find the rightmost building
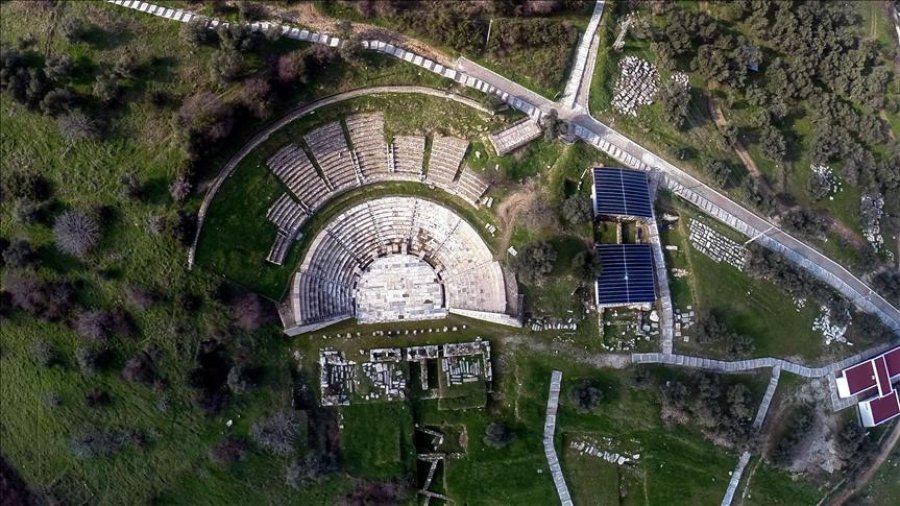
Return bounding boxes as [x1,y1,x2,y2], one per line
[837,346,900,426]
